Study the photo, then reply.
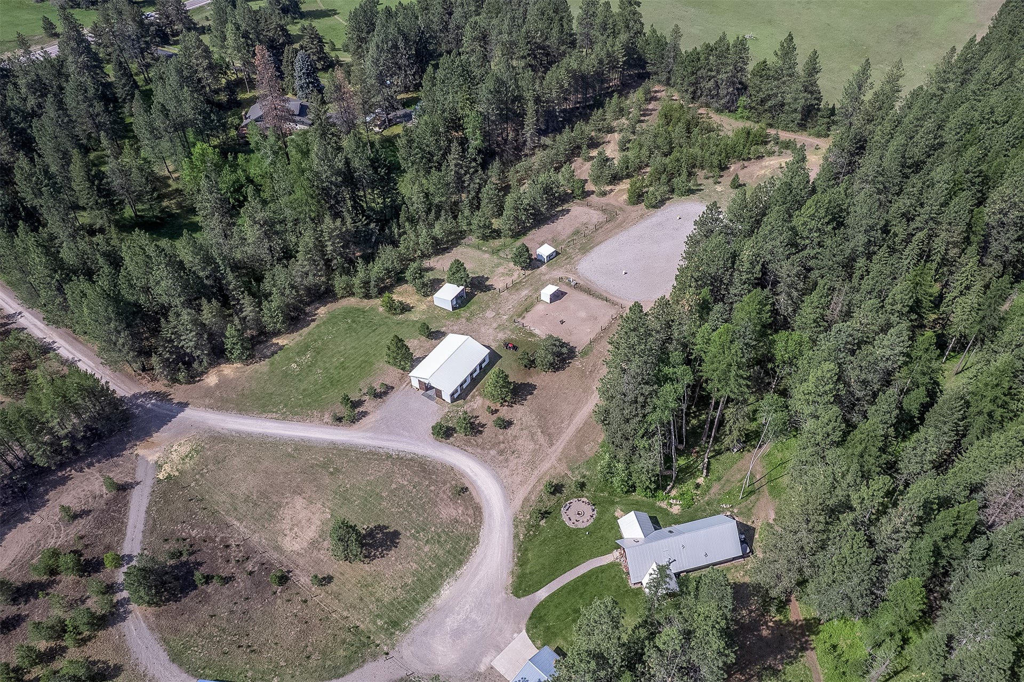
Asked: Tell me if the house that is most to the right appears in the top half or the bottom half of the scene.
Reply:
bottom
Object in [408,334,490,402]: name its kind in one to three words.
barn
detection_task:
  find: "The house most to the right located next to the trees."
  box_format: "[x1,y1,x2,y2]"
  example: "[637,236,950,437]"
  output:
[610,511,751,603]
